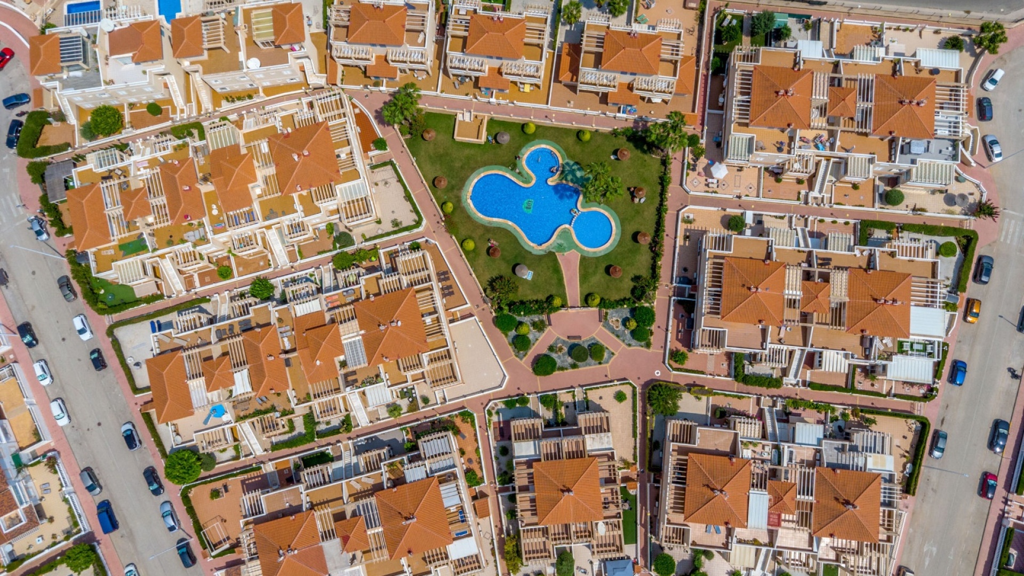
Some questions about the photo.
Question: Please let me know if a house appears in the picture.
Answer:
Yes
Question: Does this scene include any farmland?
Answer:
No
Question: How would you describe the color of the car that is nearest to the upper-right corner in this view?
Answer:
white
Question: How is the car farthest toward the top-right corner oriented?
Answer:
at an angle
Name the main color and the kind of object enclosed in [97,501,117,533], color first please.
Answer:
blue vehicle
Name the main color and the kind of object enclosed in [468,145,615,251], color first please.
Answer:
blue swimming pool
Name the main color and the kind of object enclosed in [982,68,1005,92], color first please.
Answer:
white car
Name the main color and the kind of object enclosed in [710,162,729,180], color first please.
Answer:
white umbrella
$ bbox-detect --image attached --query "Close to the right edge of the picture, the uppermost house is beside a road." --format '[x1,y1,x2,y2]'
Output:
[718,40,981,196]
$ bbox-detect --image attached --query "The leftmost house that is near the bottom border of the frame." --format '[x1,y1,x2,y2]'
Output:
[0,451,49,549]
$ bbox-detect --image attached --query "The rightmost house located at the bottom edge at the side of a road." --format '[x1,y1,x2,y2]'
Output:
[654,410,904,576]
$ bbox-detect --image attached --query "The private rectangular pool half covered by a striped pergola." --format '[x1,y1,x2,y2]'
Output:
[63,0,103,28]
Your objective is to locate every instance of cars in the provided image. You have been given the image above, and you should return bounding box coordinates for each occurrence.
[983,136,1002,161]
[977,99,992,121]
[6,122,24,147]
[965,299,982,323]
[59,276,77,300]
[5,94,30,108]
[33,359,53,386]
[28,216,49,241]
[52,399,70,425]
[178,539,195,566]
[990,422,1008,450]
[980,473,996,499]
[18,322,38,348]
[950,361,967,386]
[162,502,180,531]
[91,349,108,371]
[123,424,141,449]
[75,315,92,340]
[0,49,15,69]
[80,467,102,495]
[930,429,947,457]
[144,468,163,494]
[982,68,1005,92]
[975,257,993,283]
